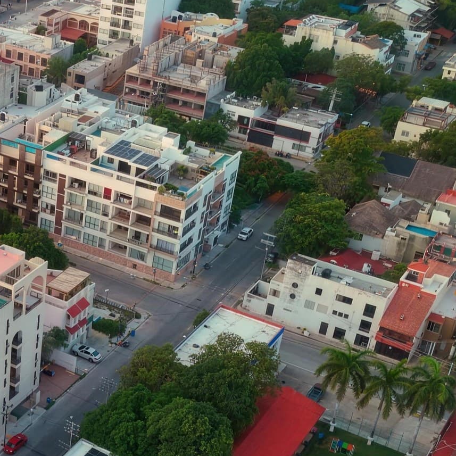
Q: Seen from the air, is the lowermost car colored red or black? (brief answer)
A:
red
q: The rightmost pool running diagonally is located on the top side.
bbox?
[212,155,235,171]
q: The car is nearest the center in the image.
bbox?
[236,224,255,240]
